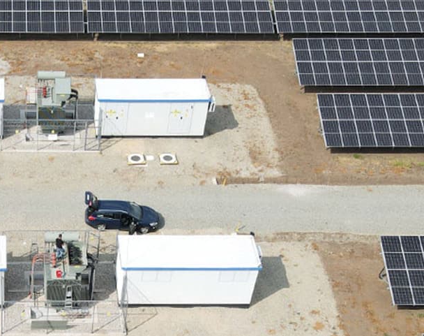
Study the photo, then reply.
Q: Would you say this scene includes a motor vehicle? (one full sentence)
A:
Yes, a motor vehicle appears in the view.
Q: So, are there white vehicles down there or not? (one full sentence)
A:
No, I can't see a single white vehicle in this photo.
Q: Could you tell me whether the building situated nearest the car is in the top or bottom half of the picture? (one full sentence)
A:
Seen from above, the building situated nearest the car lies in the bottom half of the view.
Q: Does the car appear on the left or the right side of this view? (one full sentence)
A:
It is on the left.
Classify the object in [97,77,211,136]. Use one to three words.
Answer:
building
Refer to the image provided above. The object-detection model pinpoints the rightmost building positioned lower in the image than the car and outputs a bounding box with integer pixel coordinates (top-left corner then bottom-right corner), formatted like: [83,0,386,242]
[118,233,263,305]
